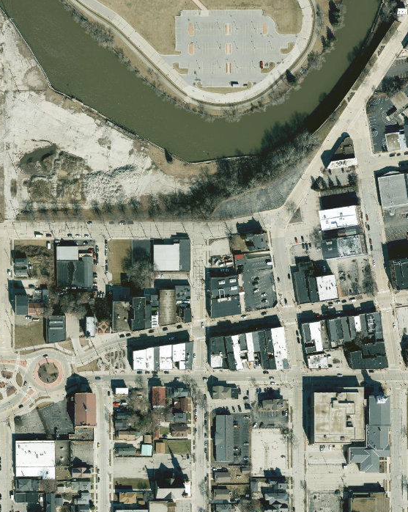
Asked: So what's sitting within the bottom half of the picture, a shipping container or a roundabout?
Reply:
roundabout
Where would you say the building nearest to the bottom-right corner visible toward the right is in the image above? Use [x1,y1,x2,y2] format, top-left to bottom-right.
[352,491,390,512]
